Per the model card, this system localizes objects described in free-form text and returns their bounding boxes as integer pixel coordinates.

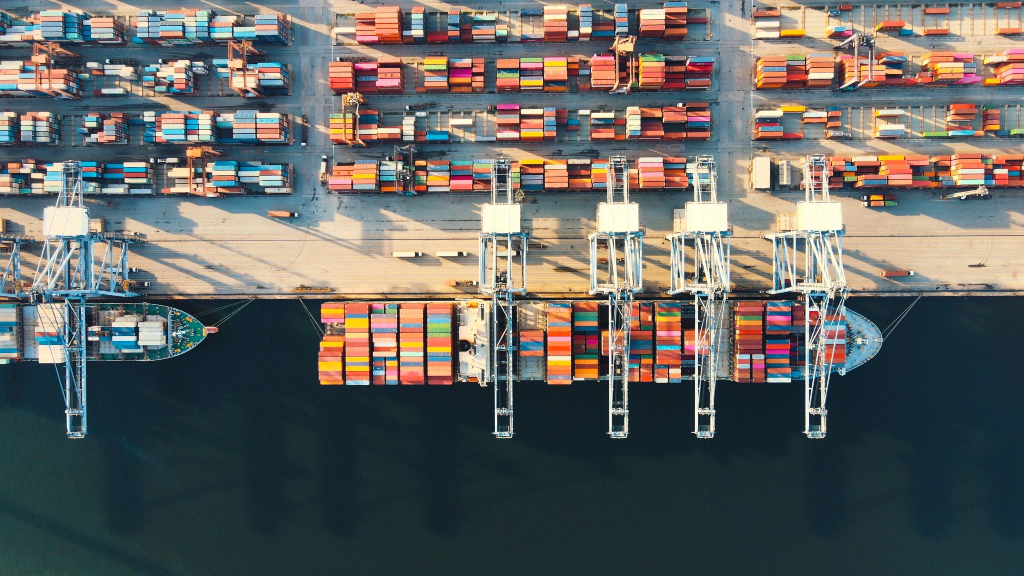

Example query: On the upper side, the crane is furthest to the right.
[834,33,875,95]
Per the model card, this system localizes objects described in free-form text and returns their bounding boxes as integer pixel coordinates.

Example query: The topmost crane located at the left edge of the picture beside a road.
[29,41,79,102]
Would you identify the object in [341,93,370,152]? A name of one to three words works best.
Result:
crane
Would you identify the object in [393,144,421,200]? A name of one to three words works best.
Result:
crane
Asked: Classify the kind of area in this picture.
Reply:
port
